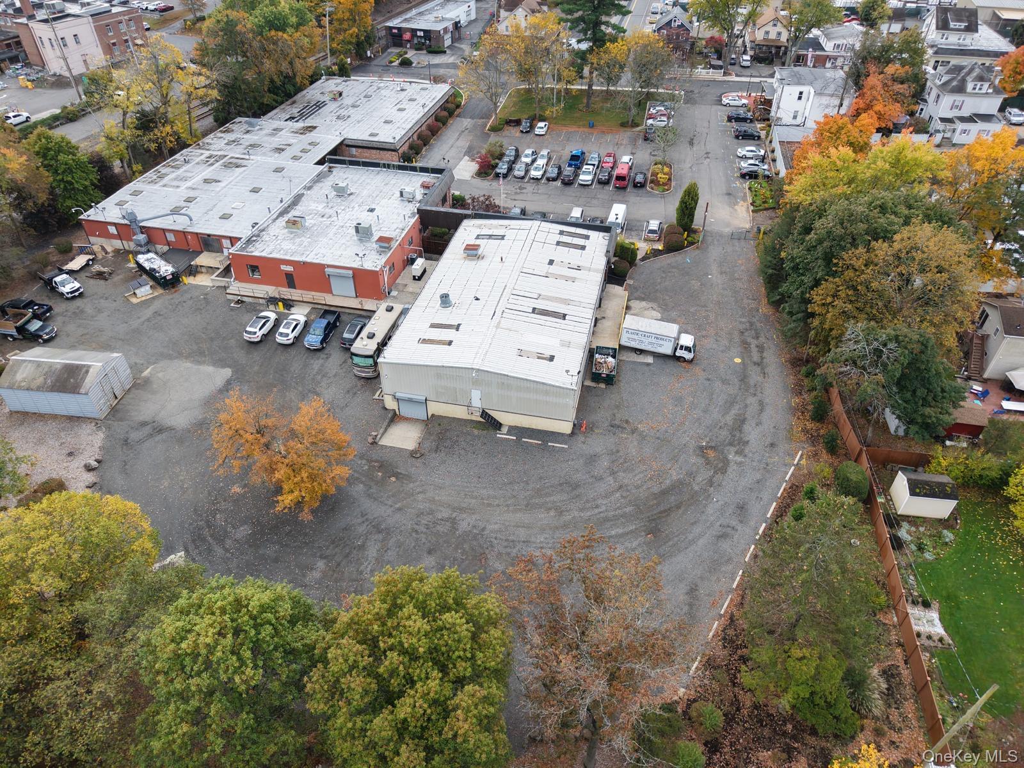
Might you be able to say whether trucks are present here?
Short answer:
Yes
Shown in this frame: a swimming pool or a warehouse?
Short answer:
warehouse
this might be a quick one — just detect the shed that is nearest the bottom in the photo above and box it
[889,469,962,519]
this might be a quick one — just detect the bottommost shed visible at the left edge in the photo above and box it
[0,352,138,420]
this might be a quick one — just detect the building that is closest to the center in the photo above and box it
[376,216,611,444]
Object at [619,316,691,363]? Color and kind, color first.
white truck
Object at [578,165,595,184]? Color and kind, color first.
white vehicle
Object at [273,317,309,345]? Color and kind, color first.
white car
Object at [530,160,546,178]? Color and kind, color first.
white car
